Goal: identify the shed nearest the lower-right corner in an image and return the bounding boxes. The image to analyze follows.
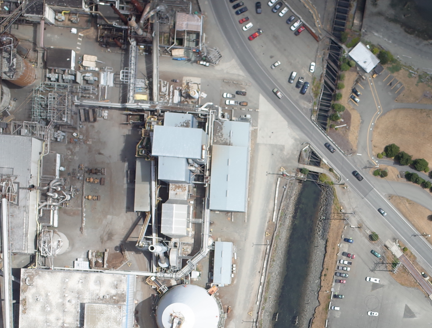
[214,242,235,284]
